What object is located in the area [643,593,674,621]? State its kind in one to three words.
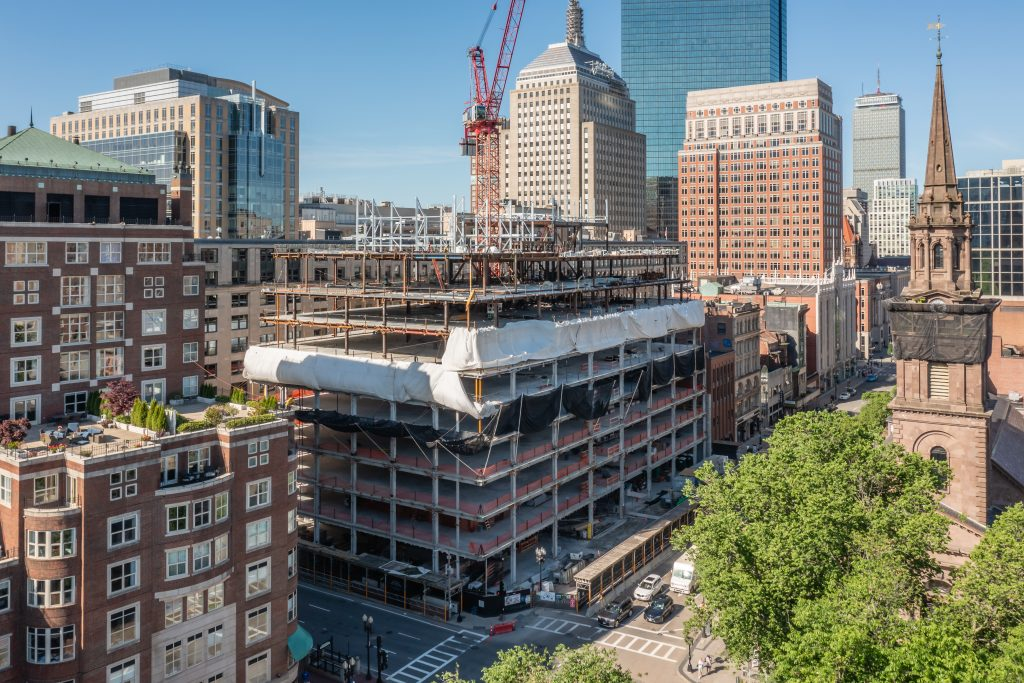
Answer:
car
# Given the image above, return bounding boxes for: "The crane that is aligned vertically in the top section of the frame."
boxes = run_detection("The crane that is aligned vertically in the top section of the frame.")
[452,0,524,381]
